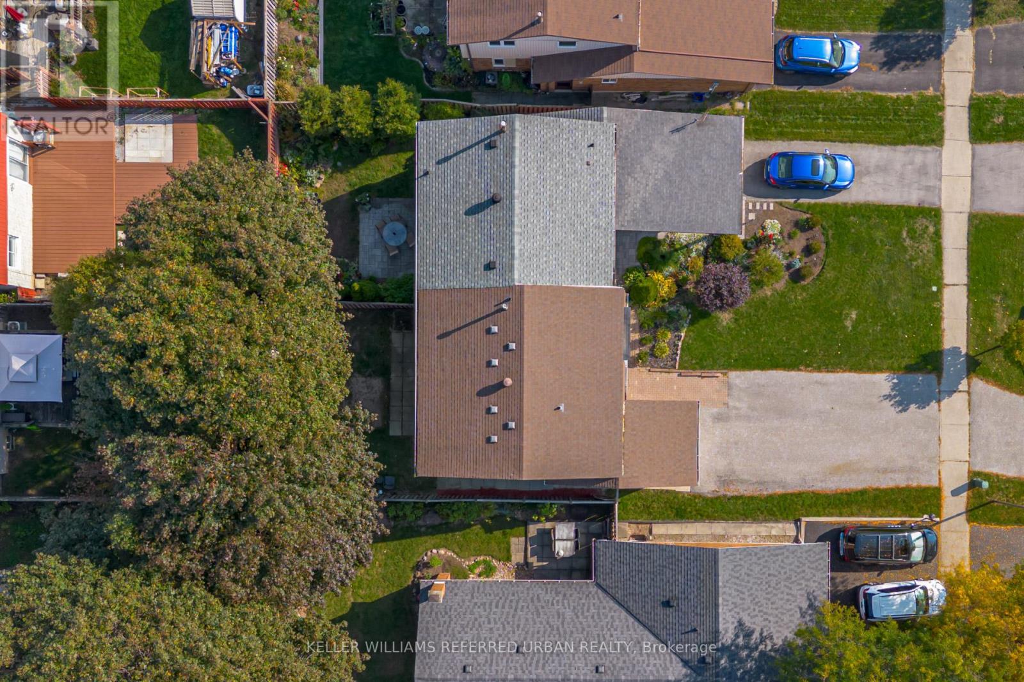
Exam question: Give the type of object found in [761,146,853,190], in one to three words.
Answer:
car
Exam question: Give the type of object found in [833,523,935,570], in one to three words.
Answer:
car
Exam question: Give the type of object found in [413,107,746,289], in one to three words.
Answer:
house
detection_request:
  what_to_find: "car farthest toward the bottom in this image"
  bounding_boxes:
[858,577,949,624]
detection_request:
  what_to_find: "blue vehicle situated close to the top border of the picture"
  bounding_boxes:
[773,29,857,78]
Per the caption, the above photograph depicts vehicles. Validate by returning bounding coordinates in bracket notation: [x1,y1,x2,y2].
[858,577,949,624]
[833,523,935,570]
[761,146,853,190]
[773,29,857,78]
